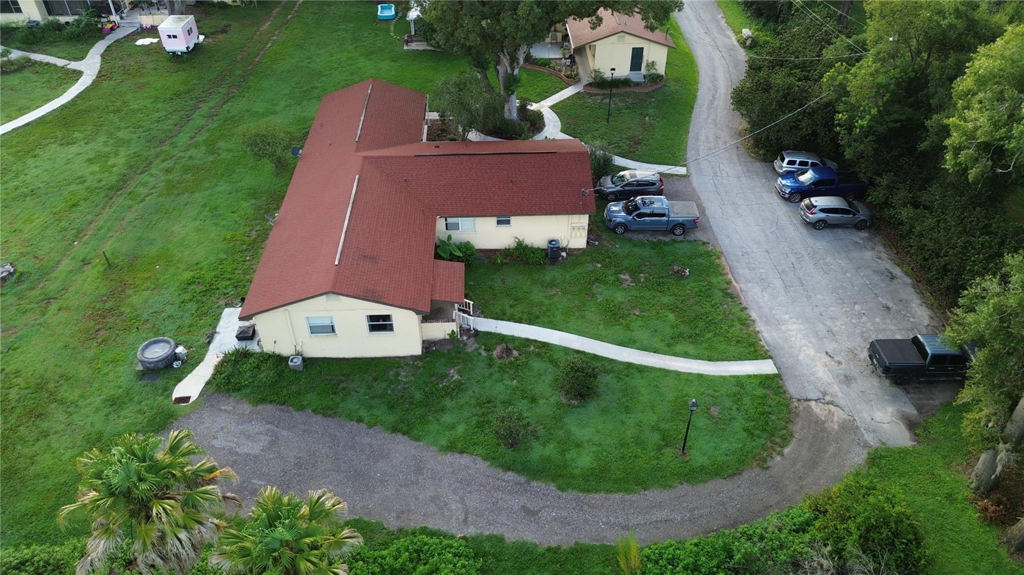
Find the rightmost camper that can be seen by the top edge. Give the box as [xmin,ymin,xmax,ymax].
[157,15,206,53]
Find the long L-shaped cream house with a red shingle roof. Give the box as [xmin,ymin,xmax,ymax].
[239,79,595,353]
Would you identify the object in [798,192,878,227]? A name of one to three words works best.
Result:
car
